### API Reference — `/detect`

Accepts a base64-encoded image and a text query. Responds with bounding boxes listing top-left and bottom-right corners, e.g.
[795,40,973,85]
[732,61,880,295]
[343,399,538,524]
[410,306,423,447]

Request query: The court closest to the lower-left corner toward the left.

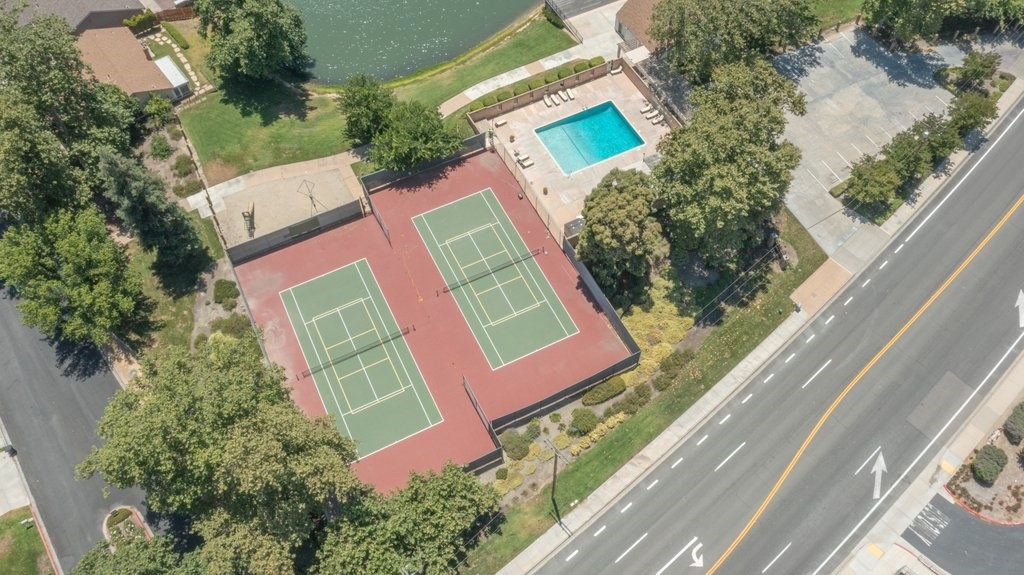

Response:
[233,211,500,527]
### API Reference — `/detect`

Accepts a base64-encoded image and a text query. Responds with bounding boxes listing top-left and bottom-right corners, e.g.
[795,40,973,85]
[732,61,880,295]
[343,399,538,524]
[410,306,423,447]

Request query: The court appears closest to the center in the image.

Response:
[367,148,632,433]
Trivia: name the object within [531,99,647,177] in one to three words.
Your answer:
swimming pool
